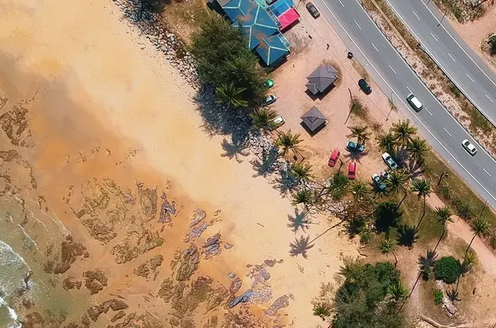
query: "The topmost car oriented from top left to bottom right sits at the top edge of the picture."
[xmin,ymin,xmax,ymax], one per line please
[305,0,321,19]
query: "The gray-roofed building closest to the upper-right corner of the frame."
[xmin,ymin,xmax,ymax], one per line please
[305,63,339,97]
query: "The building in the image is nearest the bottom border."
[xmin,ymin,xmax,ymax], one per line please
[300,105,326,134]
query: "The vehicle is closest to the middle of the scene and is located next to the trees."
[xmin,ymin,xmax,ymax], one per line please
[269,112,288,127]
